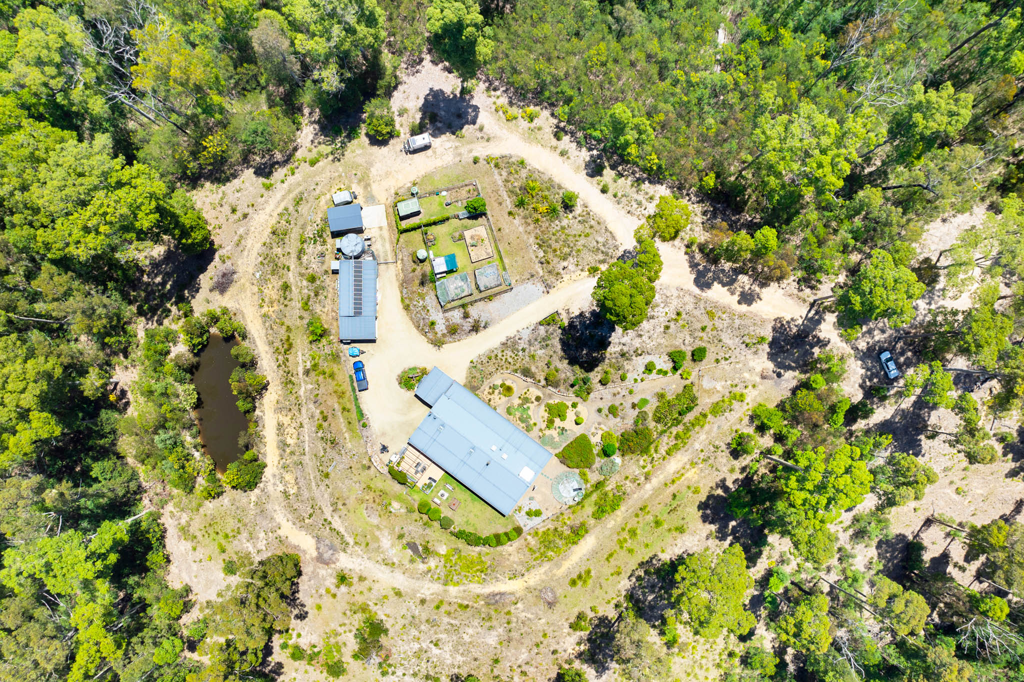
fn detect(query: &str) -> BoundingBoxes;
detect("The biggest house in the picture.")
[408,381,554,516]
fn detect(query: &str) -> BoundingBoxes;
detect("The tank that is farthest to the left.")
[340,233,366,260]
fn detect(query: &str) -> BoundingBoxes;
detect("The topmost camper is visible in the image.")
[403,131,433,151]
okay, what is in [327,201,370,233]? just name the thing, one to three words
shed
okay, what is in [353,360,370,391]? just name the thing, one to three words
vehicle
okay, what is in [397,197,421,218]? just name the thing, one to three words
shed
